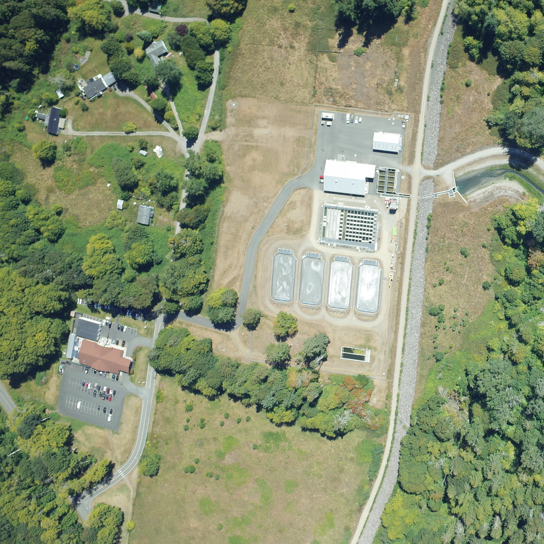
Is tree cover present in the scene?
Yes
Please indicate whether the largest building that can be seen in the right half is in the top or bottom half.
top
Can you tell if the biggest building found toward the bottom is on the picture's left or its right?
left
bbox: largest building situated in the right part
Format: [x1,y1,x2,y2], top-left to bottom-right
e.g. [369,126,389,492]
[324,159,375,195]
